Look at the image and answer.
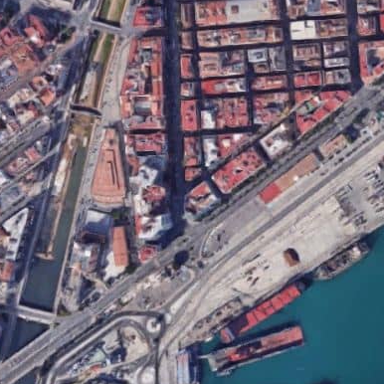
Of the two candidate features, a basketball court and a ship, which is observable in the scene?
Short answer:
ship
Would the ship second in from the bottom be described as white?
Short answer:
No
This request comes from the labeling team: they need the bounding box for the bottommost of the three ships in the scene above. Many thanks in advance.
[208,329,303,371]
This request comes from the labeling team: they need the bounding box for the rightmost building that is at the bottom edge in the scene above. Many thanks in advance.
[177,352,191,384]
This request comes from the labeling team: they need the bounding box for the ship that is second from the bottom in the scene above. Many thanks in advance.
[218,280,310,346]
